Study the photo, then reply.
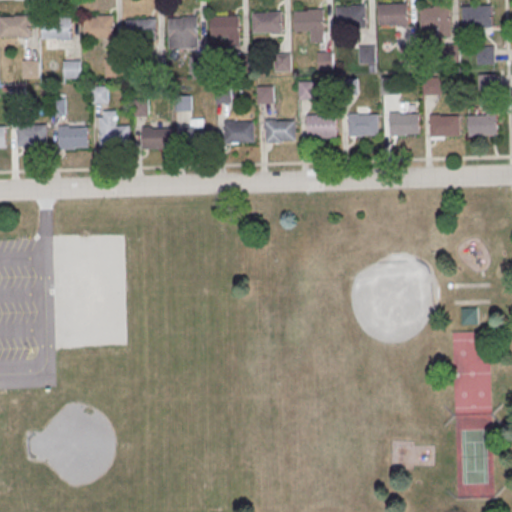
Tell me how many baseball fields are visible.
two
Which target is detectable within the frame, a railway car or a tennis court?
tennis court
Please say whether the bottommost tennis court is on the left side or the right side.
right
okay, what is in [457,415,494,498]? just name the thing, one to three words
tennis court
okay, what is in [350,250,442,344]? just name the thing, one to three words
baseball field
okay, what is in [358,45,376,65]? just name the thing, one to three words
building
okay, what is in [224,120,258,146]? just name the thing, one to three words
house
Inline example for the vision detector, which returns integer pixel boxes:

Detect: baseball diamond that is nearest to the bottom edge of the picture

[26,401,118,488]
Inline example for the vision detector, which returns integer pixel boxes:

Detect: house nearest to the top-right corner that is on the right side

[461,6,495,28]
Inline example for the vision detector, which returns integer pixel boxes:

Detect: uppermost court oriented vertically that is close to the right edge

[453,332,492,414]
